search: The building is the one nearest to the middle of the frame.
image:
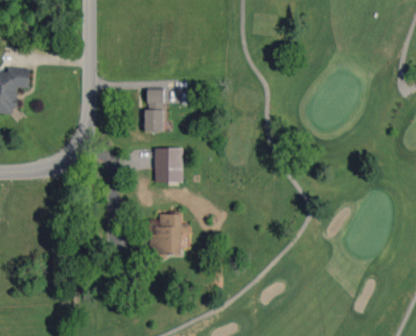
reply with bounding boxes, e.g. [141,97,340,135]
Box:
[155,146,184,187]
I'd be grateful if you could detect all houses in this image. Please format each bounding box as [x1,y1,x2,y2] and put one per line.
[155,146,184,187]
[0,68,31,113]
[149,214,192,258]
[144,88,168,134]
